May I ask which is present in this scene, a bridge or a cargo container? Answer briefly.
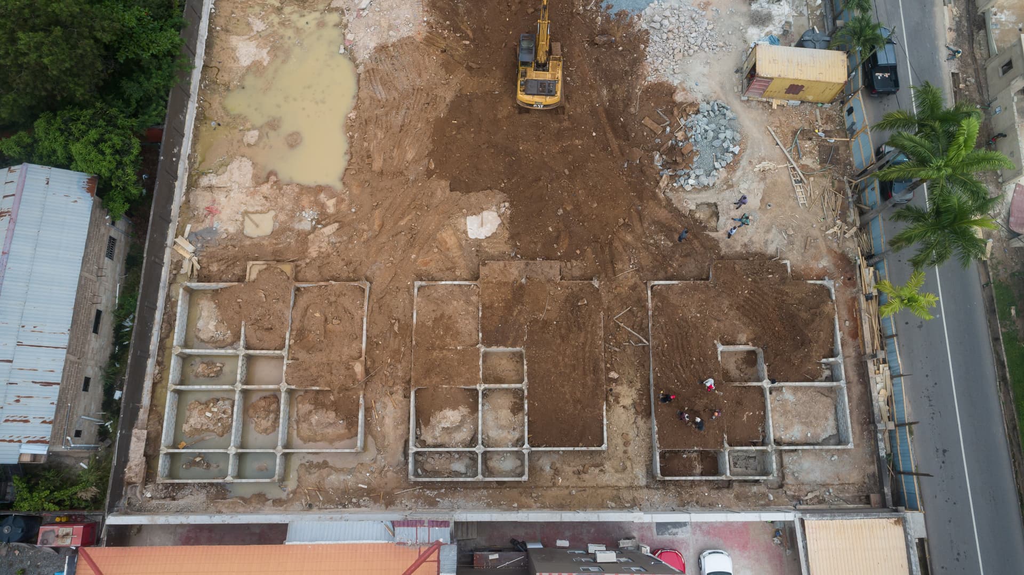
cargo container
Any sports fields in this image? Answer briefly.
No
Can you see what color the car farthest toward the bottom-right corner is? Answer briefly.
white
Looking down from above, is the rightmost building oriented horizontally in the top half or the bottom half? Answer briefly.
bottom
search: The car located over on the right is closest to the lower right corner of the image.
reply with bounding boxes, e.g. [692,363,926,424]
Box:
[697,546,736,575]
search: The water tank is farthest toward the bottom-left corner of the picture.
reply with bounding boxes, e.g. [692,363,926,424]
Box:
[0,509,43,552]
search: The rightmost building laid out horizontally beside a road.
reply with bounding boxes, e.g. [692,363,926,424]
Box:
[789,511,928,575]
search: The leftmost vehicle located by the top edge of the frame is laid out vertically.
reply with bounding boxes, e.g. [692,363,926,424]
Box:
[515,0,563,115]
